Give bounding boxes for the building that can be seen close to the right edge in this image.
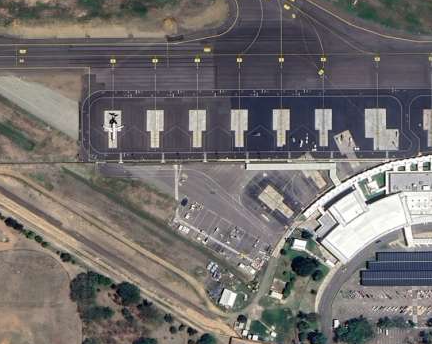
[302,154,432,266]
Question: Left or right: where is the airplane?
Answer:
left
